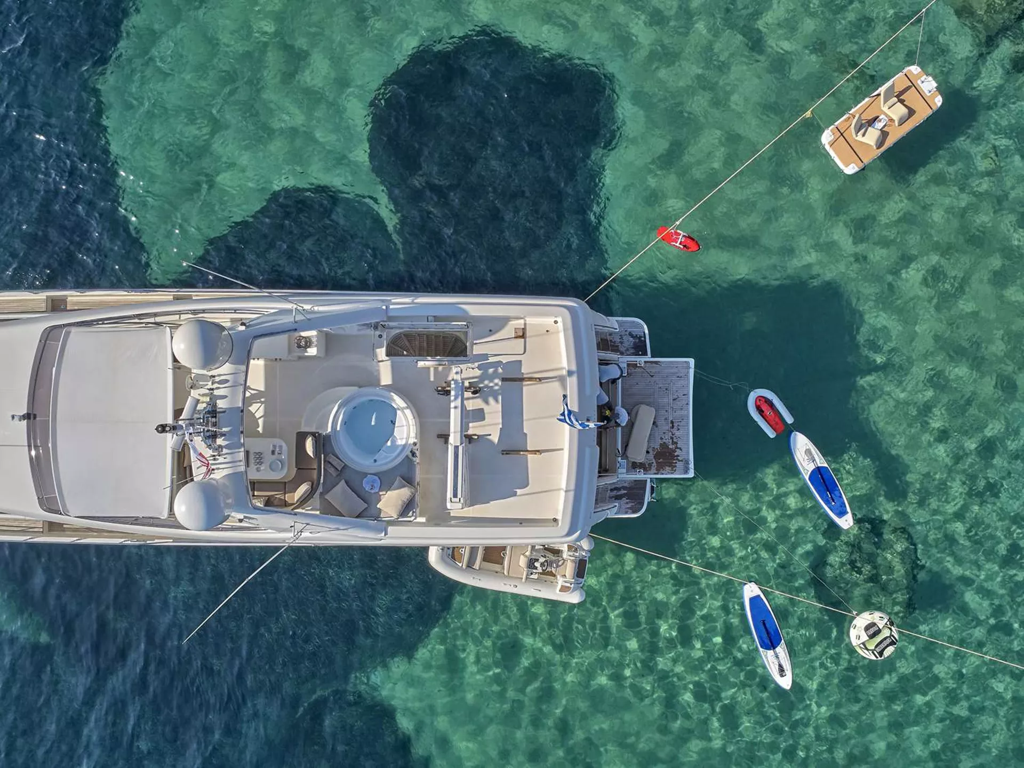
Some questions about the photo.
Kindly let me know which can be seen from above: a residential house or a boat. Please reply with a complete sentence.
Looking from above, you can make out a boat.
